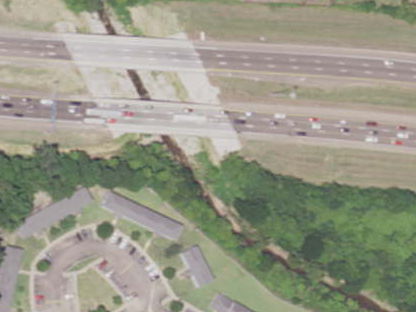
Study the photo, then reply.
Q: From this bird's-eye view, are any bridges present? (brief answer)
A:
Yes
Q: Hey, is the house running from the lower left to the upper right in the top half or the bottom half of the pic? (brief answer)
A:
bottom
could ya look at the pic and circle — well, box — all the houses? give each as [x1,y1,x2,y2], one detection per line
[0,244,24,312]
[14,185,92,240]
[180,245,214,286]
[209,294,252,312]
[99,192,182,240]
